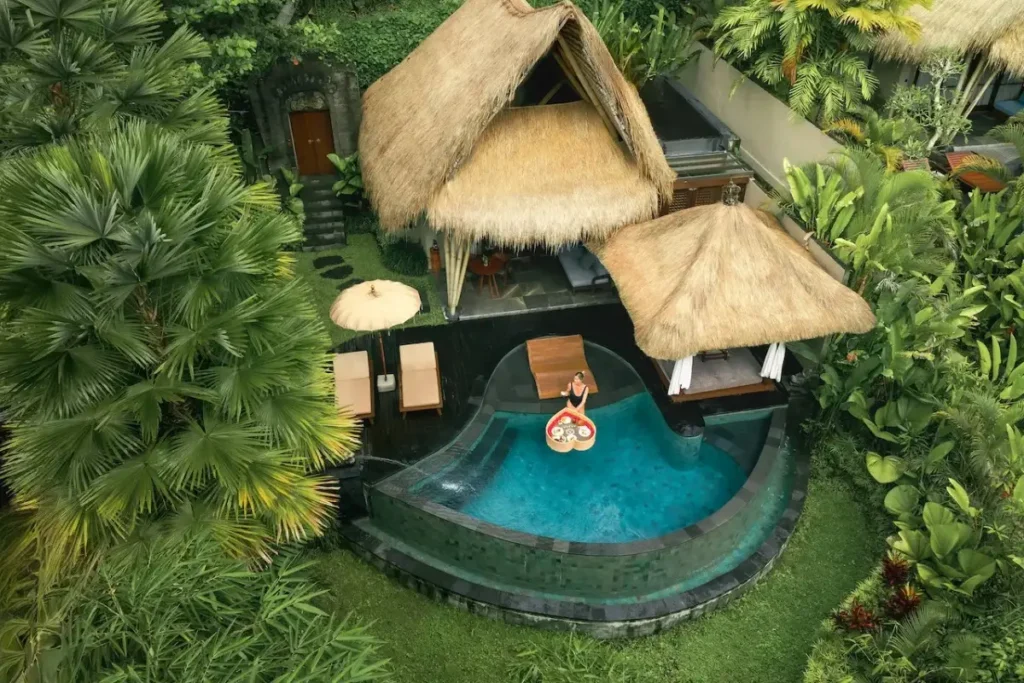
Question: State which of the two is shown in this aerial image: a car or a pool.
pool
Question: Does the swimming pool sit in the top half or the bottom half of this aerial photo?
bottom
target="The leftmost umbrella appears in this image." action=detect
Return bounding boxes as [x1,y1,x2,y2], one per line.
[328,273,422,389]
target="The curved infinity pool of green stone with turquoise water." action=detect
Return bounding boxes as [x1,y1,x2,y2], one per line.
[337,336,810,637]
